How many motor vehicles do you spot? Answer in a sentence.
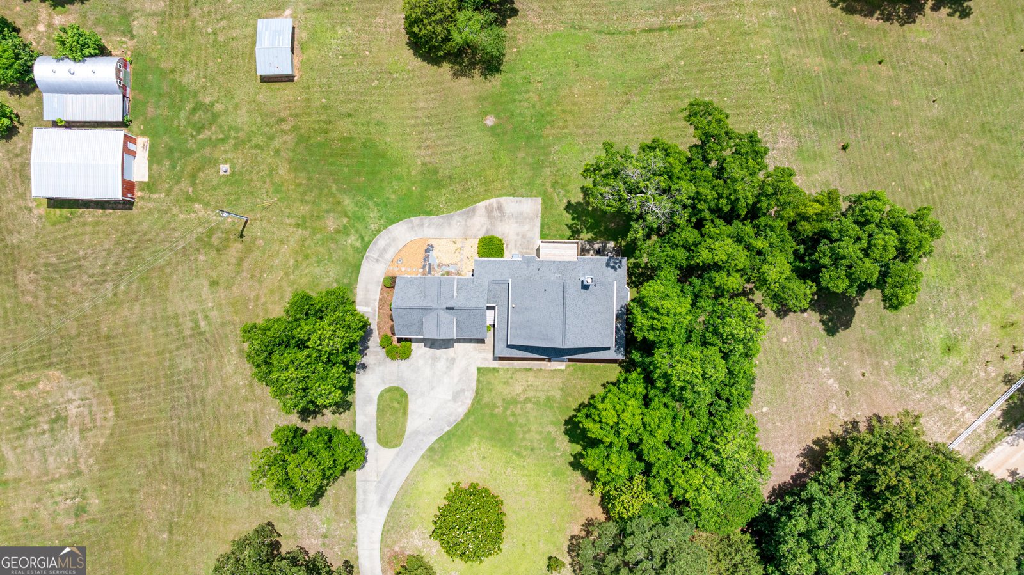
I count no motor vehicles.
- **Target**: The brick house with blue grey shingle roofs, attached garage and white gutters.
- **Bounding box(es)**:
[392,256,630,361]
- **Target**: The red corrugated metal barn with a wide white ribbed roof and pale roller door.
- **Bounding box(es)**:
[29,127,136,201]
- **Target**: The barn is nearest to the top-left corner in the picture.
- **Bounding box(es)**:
[34,55,132,123]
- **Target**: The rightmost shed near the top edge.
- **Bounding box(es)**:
[256,19,294,77]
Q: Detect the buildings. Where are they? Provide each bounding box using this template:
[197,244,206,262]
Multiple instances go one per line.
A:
[392,256,630,361]
[29,127,136,201]
[34,55,132,123]
[256,19,294,77]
